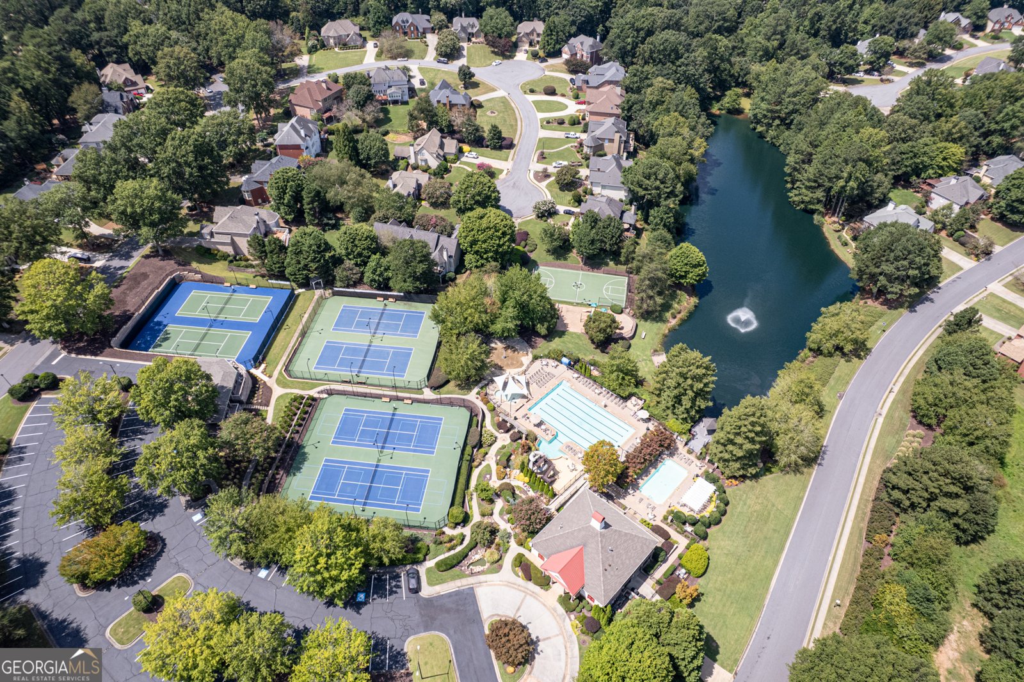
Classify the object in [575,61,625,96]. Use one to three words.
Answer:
house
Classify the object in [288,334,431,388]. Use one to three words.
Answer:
tennis court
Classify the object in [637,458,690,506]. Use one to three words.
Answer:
swimming pool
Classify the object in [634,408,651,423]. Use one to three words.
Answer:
umbrella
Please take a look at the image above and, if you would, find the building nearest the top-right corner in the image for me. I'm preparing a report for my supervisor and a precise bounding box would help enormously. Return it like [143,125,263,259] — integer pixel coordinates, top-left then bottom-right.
[972,5,1024,34]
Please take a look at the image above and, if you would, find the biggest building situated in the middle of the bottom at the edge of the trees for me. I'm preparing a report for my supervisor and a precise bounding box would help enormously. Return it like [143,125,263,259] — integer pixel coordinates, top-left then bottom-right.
[531,489,662,607]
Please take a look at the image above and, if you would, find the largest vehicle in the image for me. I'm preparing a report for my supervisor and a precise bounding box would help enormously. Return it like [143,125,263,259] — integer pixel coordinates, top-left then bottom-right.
[406,569,419,593]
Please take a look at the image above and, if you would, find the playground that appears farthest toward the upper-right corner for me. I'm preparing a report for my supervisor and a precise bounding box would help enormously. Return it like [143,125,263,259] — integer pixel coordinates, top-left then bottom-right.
[544,302,636,338]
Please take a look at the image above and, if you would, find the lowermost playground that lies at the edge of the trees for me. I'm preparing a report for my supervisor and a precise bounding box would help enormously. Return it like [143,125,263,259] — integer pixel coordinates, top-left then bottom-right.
[490,347,528,369]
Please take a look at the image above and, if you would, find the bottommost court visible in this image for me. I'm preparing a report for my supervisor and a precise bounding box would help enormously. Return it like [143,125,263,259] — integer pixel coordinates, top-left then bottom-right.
[278,449,456,529]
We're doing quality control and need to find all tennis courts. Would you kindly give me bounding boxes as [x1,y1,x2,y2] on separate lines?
[278,449,456,529]
[288,334,431,388]
[126,318,273,369]
[305,395,469,464]
[149,281,291,327]
[311,296,440,344]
